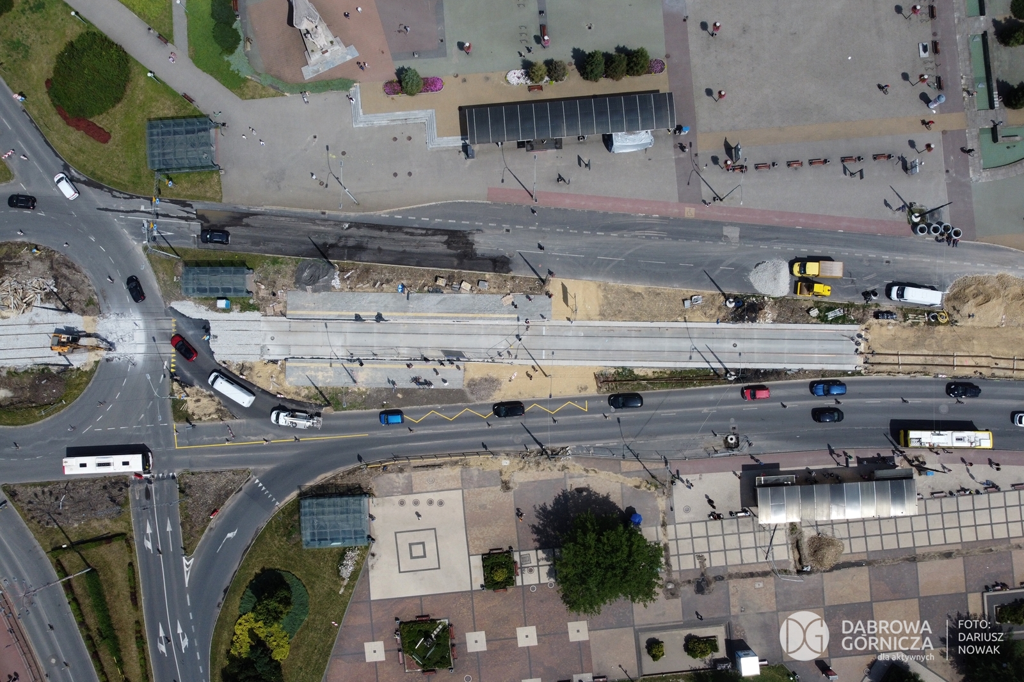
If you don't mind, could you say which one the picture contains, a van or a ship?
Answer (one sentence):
The image shows a van.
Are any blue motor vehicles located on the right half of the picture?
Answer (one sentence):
Yes, looking on the right half of the picture, one can make out a blue motor vehicle.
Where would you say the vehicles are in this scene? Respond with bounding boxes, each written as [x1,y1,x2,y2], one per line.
[62,451,157,474]
[608,393,642,409]
[493,401,525,417]
[899,428,995,451]
[200,228,233,244]
[789,260,846,277]
[54,172,81,201]
[946,382,982,397]
[272,408,328,429]
[126,274,147,305]
[7,194,39,209]
[50,333,113,353]
[1010,412,1024,425]
[742,385,771,400]
[810,380,846,396]
[379,410,405,425]
[172,334,199,362]
[212,372,255,407]
[793,281,833,297]
[887,285,944,304]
